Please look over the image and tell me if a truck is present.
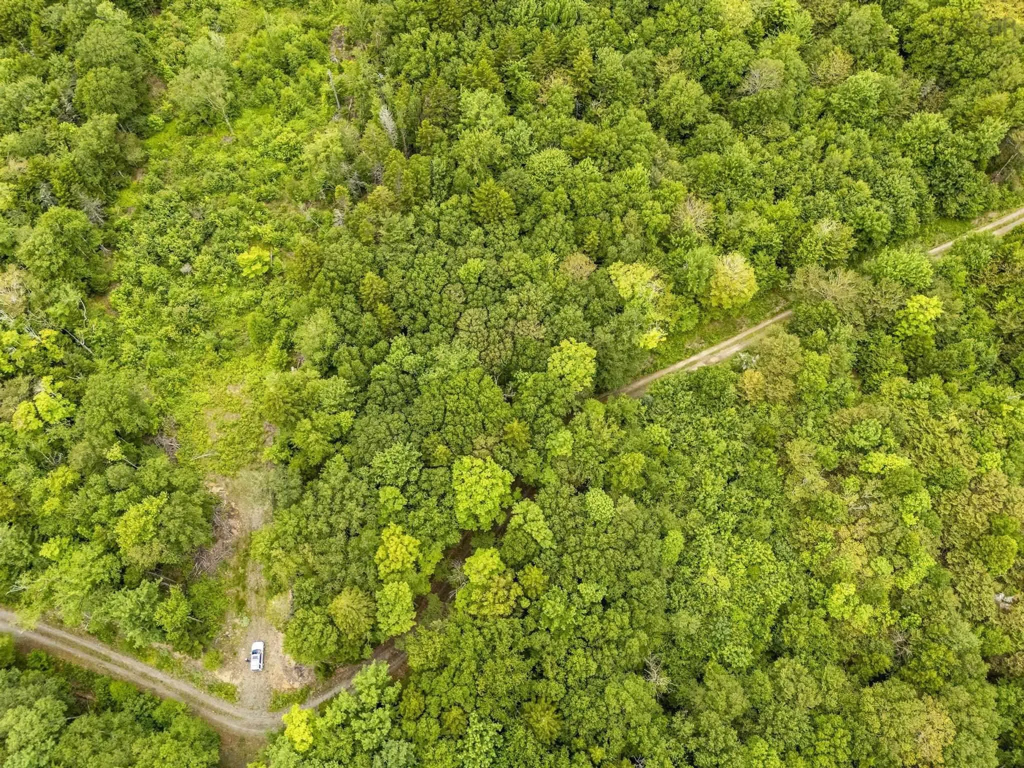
No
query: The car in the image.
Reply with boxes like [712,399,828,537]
[249,640,267,673]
